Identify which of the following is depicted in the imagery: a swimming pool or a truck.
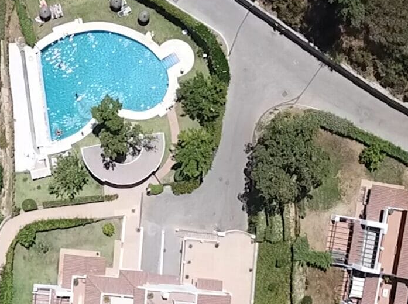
swimming pool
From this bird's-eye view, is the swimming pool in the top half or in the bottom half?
top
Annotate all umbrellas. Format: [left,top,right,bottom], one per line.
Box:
[110,0,122,9]
[137,12,149,23]
[39,8,52,19]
